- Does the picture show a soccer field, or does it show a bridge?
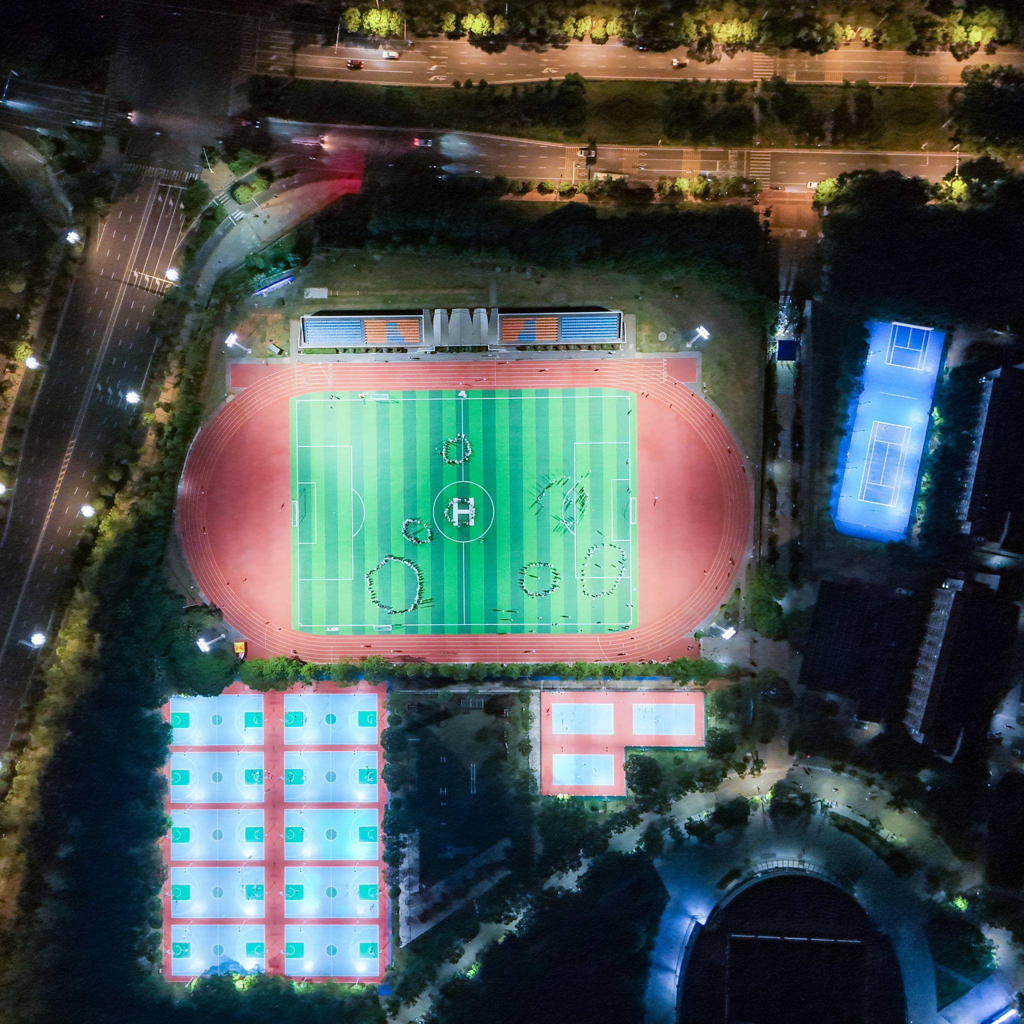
soccer field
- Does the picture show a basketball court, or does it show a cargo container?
basketball court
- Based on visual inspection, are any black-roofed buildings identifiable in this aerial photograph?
Yes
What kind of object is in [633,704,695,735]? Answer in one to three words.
sports court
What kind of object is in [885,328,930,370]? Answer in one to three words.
tennis court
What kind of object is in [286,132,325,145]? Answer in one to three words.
vehicle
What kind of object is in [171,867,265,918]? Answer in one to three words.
basketball court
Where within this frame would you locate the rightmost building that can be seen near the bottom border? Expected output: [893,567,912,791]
[660,852,910,1024]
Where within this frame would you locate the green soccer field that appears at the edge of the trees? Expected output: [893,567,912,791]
[289,387,639,635]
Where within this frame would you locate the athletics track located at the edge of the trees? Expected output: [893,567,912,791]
[176,357,753,666]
